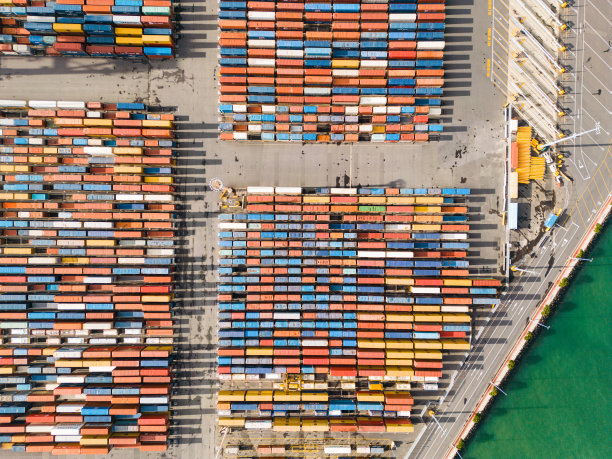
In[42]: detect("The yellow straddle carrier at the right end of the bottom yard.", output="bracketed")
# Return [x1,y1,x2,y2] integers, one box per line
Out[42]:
[376,434,395,457]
